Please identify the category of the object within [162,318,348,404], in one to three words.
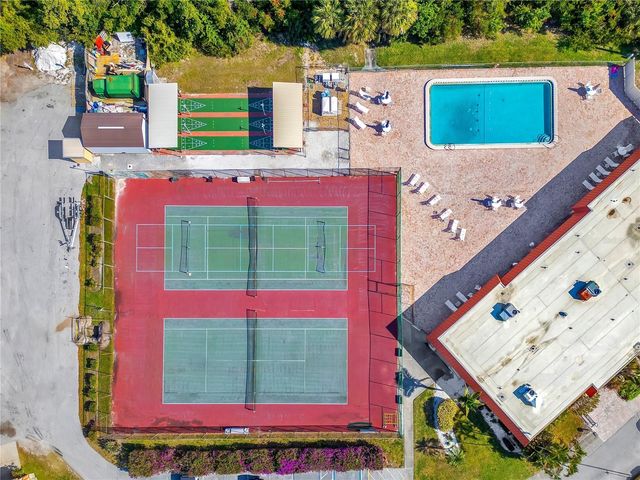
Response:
tennis court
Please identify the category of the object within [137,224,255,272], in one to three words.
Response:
sports court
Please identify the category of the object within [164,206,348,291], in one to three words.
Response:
tennis court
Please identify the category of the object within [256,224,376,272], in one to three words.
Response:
sports court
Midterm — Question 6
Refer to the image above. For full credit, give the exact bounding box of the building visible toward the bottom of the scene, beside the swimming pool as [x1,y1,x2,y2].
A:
[427,148,640,445]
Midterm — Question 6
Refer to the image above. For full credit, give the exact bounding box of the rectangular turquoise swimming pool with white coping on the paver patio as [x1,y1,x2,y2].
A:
[425,78,557,148]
